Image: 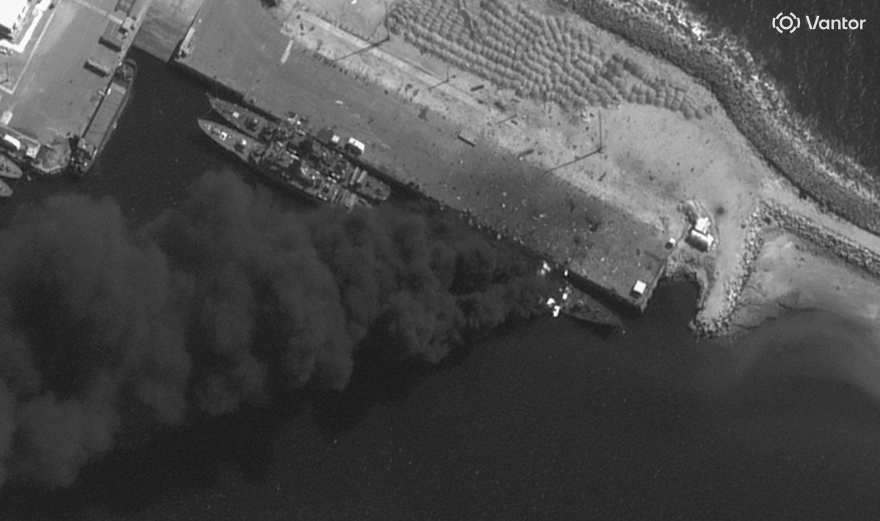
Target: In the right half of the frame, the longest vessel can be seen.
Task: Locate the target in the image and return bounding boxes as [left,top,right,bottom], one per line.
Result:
[451,226,623,331]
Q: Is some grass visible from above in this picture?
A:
No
